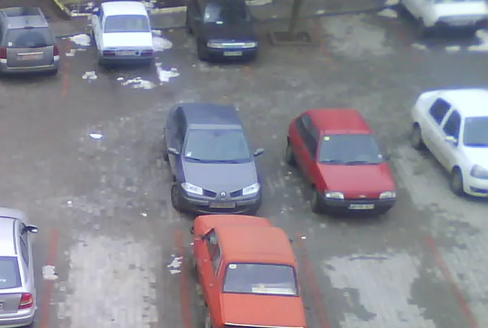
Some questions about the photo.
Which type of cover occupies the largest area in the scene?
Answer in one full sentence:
Most of the picture is covered by paved ground.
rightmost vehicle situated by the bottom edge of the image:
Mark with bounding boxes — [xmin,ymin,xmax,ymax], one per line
[186,214,311,328]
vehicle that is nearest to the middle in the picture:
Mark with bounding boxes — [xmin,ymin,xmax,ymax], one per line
[158,104,262,213]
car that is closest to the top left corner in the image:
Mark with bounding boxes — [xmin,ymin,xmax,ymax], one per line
[0,2,57,77]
